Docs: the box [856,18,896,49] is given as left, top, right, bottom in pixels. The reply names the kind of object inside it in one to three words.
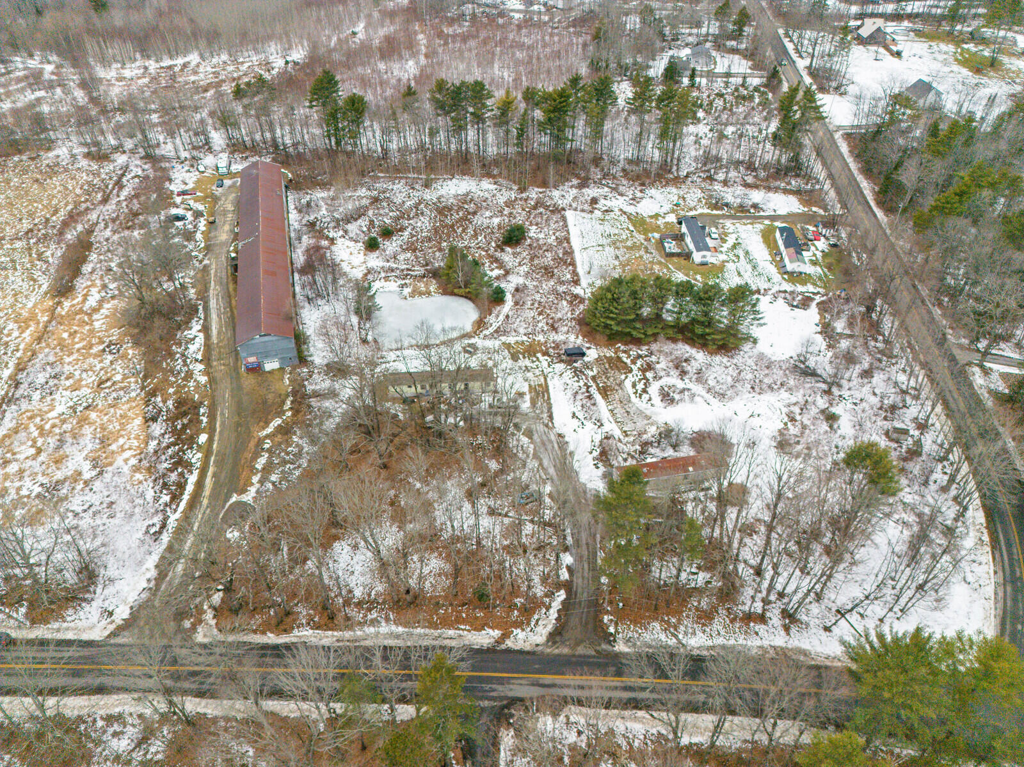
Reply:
house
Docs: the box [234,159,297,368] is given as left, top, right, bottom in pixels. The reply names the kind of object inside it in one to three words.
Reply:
barn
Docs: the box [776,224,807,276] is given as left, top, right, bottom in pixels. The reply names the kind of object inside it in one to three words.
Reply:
house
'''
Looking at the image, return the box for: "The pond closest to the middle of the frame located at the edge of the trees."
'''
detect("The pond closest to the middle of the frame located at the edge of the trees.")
[372,291,480,350]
